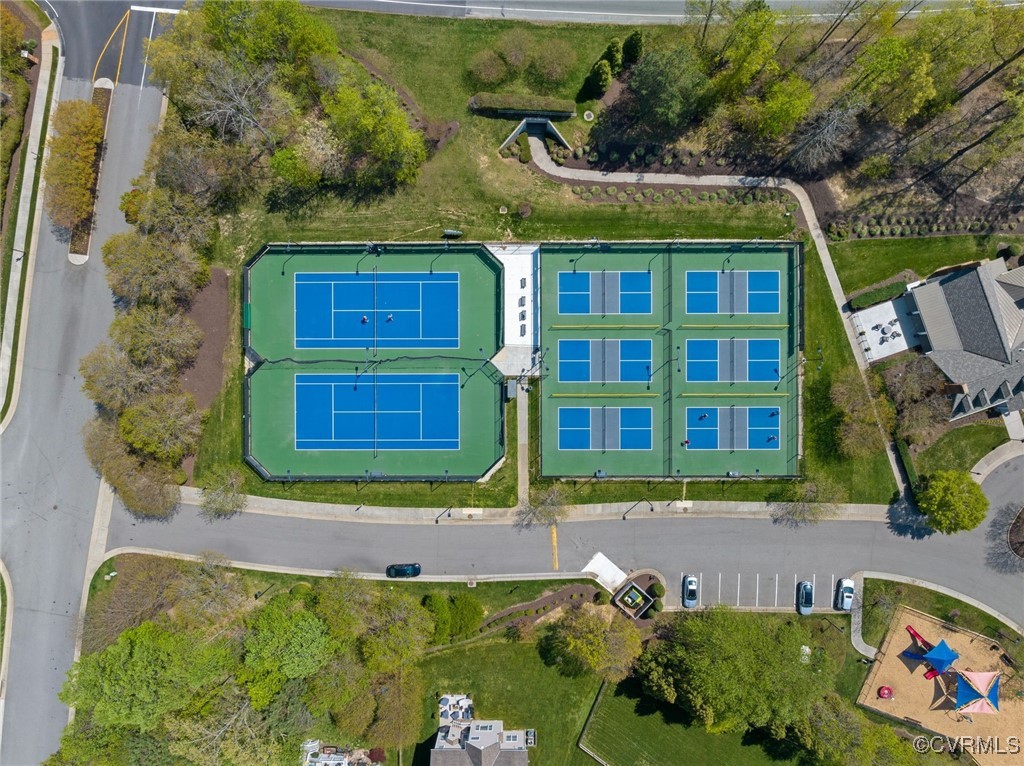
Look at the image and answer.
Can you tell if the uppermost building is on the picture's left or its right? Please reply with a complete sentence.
The uppermost building sits on the right side.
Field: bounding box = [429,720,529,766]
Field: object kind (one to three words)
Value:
house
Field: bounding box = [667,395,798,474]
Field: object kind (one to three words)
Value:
sports court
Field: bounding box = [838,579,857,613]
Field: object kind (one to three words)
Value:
car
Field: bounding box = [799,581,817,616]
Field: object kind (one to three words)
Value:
car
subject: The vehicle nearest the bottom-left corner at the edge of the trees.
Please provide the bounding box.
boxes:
[386,563,420,580]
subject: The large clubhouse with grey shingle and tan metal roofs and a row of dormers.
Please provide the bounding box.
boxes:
[904,257,1024,422]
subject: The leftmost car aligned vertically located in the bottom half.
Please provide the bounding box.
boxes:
[685,576,700,609]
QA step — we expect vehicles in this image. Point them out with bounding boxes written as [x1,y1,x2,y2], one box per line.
[386,563,420,580]
[838,579,857,613]
[799,581,817,616]
[685,576,700,609]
